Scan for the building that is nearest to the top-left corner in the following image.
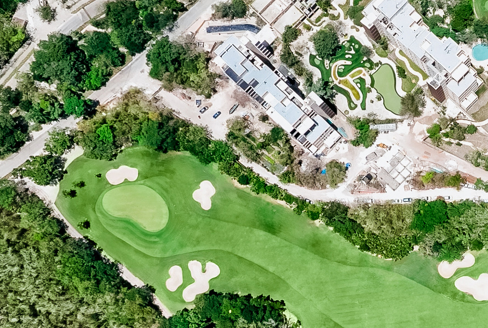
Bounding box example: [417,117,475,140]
[11,3,36,27]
